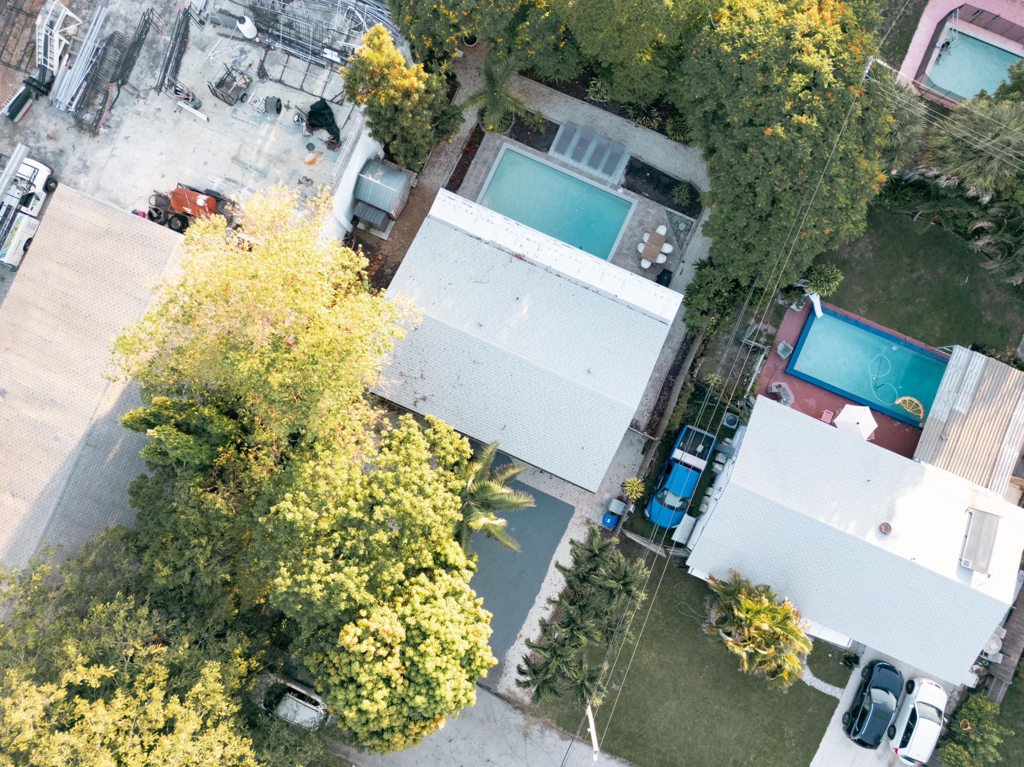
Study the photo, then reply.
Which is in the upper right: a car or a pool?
pool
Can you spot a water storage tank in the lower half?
No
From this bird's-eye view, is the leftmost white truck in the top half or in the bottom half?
top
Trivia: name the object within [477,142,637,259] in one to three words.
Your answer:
swimming pool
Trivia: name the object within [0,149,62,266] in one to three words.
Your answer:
truck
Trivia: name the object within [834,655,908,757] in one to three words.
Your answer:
car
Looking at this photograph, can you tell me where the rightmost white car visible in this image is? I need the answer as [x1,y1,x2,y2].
[882,671,955,767]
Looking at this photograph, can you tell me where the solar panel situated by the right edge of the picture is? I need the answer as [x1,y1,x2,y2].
[959,500,1005,596]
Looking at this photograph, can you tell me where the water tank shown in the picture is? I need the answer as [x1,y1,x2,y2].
[228,11,254,41]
